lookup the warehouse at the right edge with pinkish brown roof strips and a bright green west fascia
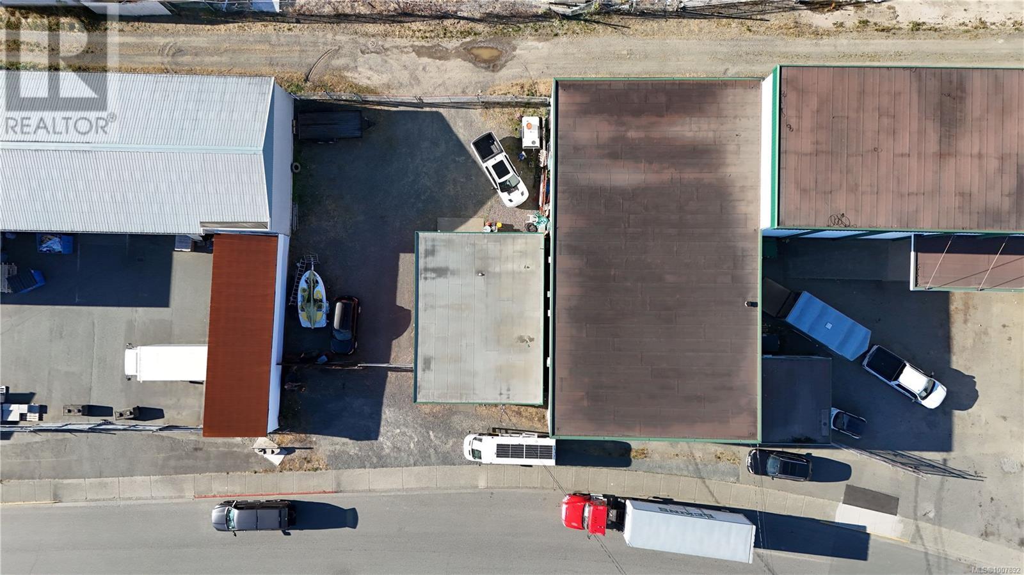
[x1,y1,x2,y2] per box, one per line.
[760,66,1024,293]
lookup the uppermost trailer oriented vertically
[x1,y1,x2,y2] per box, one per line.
[520,116,542,161]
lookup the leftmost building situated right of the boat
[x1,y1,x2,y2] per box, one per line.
[414,232,545,409]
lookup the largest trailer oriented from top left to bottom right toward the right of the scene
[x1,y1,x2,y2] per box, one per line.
[759,273,872,361]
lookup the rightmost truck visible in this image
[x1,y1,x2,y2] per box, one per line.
[859,344,944,408]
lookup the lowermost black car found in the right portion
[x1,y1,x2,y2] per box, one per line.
[745,447,813,483]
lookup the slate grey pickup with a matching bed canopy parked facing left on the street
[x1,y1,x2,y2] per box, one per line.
[212,498,297,537]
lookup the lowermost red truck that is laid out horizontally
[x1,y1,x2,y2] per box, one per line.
[557,488,663,534]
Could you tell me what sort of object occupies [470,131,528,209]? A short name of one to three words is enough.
truck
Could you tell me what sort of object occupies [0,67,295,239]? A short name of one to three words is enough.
warehouse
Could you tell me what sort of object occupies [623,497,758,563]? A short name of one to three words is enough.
trailer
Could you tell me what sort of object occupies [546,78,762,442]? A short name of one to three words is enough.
warehouse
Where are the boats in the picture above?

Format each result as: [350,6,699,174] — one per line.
[297,270,329,329]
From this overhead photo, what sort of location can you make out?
industrial area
